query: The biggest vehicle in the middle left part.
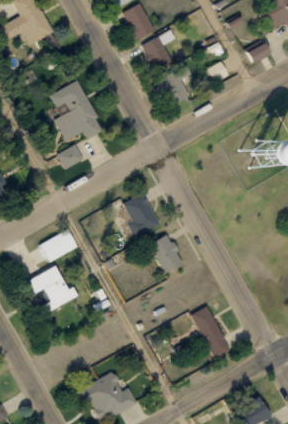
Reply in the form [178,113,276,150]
[68,176,88,190]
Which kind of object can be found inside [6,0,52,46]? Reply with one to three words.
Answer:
house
